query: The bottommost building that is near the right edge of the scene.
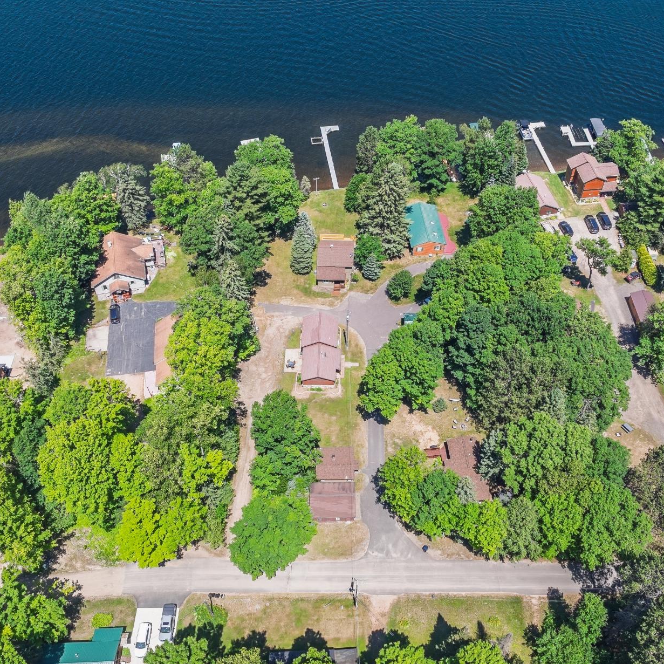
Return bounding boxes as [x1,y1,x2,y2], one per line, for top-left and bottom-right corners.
[629,291,664,333]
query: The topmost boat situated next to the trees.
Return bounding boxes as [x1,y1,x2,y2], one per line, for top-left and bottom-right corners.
[517,118,532,140]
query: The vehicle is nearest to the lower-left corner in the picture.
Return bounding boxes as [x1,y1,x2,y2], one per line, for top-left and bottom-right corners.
[131,622,152,659]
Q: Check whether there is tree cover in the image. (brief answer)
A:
Yes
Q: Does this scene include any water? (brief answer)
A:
Yes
